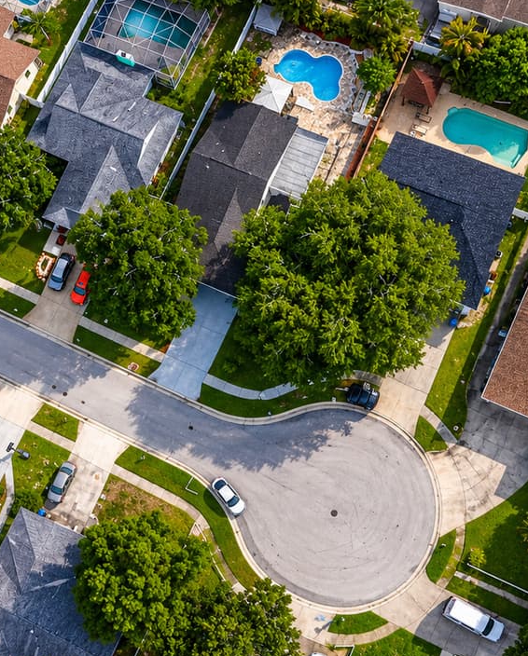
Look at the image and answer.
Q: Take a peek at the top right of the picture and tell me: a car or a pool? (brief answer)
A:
pool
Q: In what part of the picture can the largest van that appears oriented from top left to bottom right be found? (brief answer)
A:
bottom right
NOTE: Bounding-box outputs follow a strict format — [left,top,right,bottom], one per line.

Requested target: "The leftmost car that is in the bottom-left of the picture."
[47,459,78,505]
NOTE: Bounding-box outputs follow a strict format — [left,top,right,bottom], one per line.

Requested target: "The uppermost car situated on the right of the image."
[339,379,385,413]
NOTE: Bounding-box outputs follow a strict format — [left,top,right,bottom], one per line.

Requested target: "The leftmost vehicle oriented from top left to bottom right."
[209,476,248,519]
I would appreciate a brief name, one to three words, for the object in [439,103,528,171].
swimming pool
